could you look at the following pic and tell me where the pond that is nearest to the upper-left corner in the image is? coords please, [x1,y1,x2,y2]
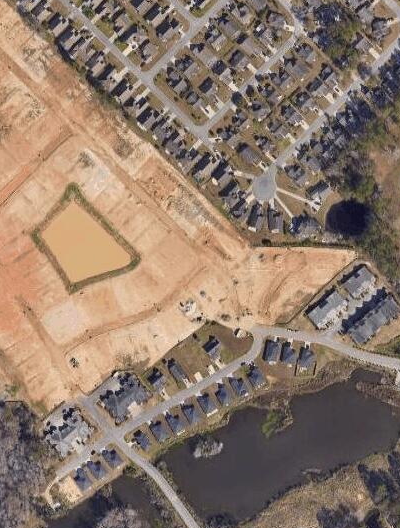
[43,200,132,283]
